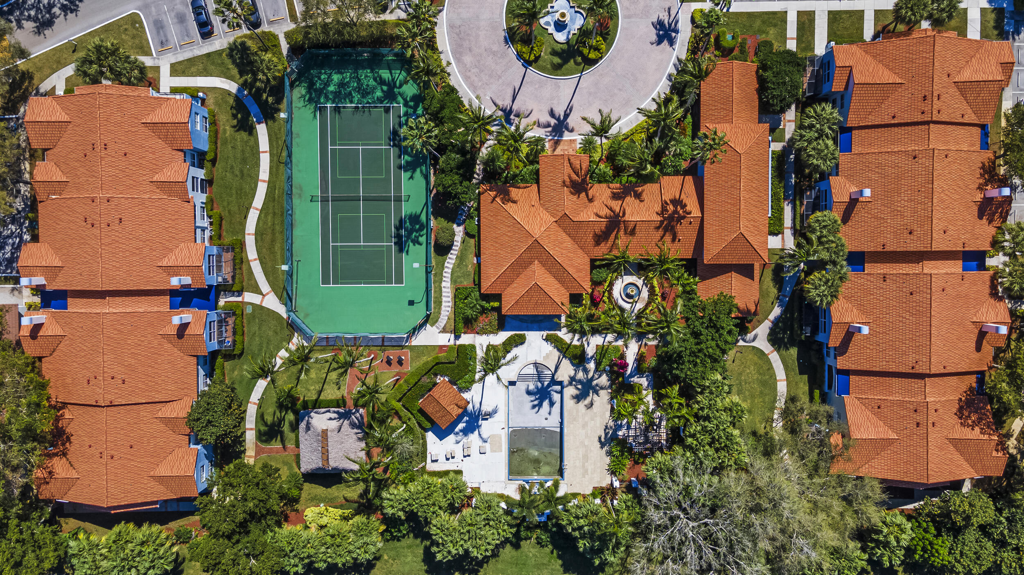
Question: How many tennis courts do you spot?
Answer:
1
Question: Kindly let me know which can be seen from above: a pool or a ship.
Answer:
pool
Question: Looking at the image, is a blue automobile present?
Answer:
Yes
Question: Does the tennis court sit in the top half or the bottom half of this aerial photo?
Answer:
top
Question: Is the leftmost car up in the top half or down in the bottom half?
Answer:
top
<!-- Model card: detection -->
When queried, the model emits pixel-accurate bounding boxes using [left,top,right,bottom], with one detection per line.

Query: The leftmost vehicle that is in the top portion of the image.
[190,0,215,36]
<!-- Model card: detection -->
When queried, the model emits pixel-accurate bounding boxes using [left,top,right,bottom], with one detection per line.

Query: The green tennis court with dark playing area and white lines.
[292,56,431,333]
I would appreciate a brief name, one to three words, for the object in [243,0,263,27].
car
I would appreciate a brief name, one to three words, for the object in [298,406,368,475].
shed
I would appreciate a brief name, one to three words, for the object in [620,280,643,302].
fountain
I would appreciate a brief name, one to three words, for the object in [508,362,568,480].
swimming pool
